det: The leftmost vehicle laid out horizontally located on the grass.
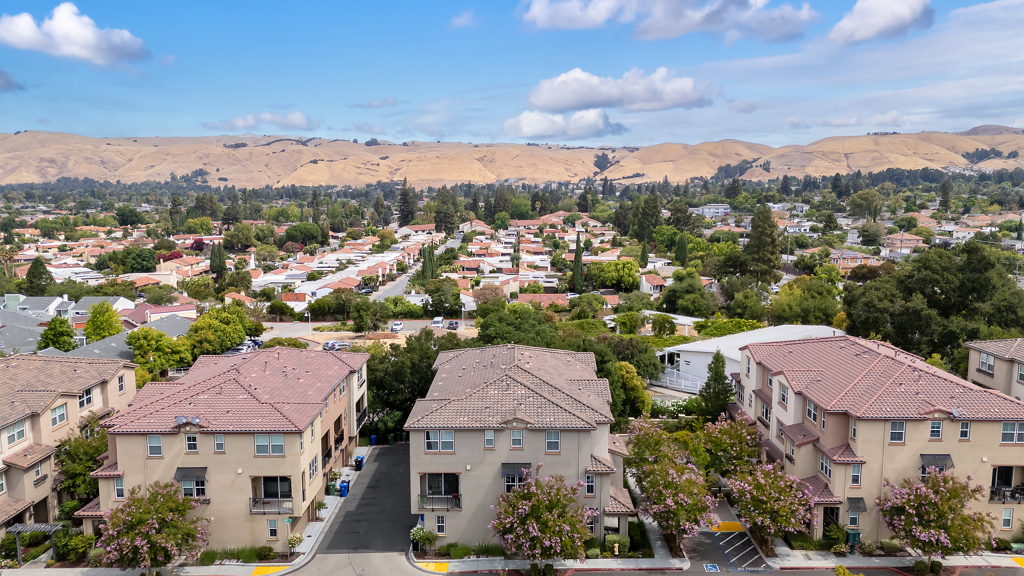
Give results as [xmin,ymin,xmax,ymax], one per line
[327,339,357,352]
